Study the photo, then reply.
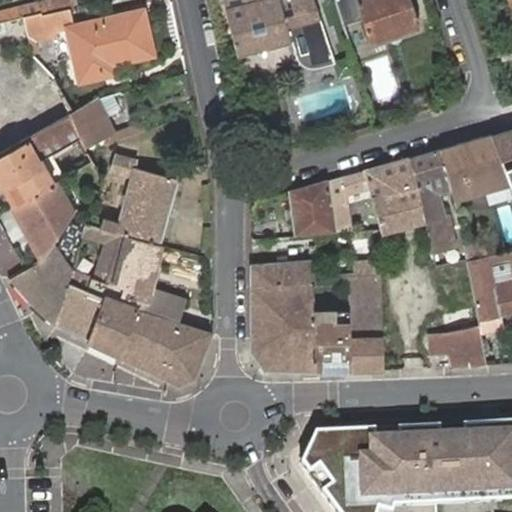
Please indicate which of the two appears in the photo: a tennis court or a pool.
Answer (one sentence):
Of the two, only a pool appears.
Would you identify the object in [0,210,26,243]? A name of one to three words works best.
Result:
shed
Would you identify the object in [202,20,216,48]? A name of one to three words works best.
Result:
vehicle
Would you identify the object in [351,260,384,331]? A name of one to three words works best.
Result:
house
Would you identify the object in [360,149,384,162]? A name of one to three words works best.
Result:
vehicle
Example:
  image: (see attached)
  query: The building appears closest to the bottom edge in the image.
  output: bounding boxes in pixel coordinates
[302,418,512,512]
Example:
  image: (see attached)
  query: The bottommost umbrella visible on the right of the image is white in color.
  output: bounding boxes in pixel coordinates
[446,250,460,264]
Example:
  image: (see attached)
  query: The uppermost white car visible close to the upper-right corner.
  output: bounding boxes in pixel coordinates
[444,17,457,38]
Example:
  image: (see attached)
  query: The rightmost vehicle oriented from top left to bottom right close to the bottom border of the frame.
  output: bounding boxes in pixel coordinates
[276,478,294,498]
